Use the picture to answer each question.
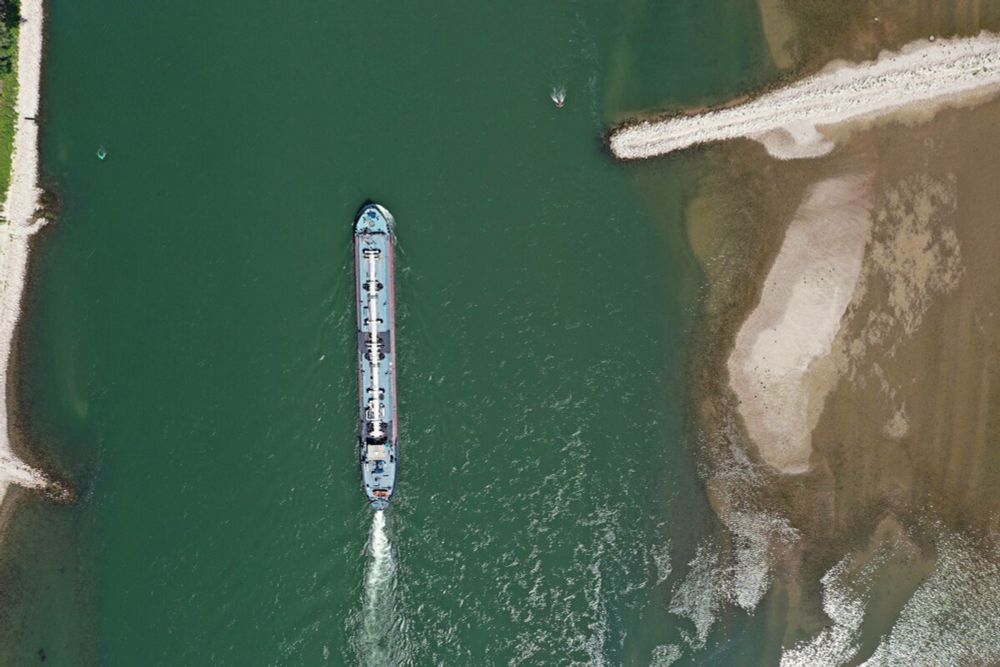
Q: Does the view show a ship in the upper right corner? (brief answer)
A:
No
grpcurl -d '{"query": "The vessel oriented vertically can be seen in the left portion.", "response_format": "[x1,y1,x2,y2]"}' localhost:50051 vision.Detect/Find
[354,204,397,509]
